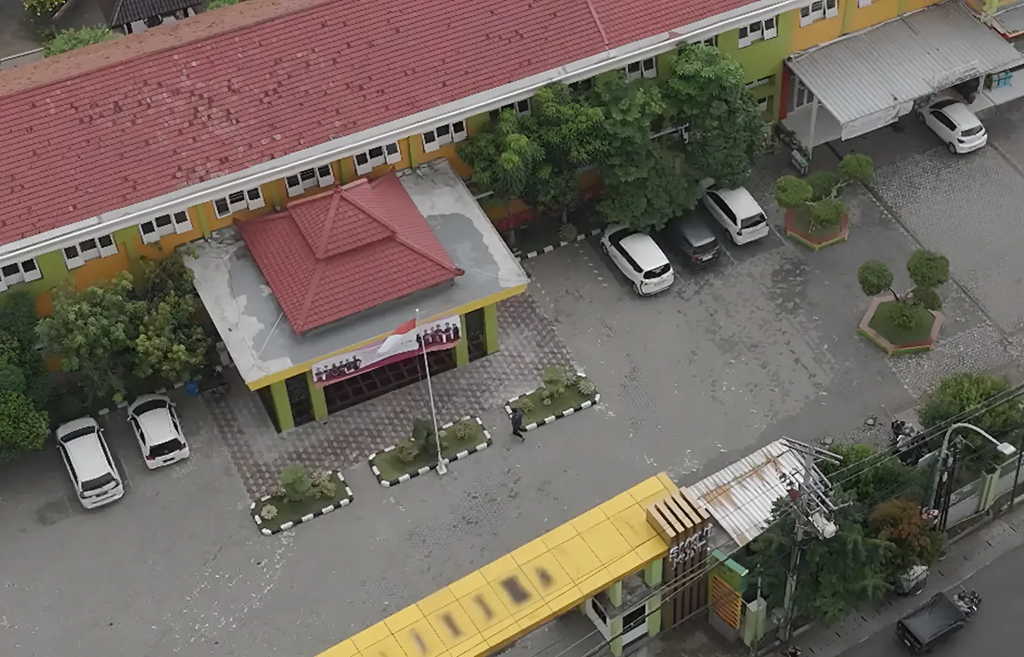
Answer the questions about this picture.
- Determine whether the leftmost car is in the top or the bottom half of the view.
bottom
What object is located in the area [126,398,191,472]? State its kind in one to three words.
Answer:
car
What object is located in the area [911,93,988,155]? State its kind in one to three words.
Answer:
car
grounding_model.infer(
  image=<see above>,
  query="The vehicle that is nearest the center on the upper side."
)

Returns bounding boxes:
[601,222,676,297]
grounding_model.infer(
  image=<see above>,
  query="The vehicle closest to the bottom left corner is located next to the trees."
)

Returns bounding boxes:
[54,419,124,510]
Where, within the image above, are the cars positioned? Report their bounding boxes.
[601,222,676,297]
[54,419,124,510]
[126,398,191,472]
[648,199,722,270]
[695,174,770,246]
[911,93,988,155]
